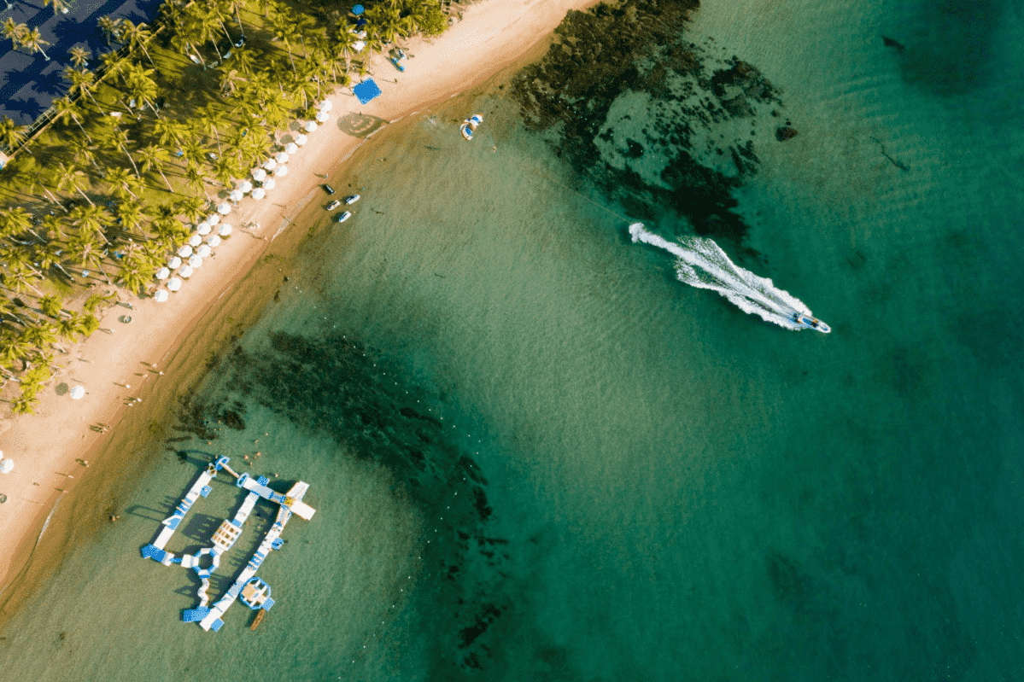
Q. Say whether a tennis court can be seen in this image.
No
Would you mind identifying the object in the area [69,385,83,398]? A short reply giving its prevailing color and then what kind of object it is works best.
white umbrella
